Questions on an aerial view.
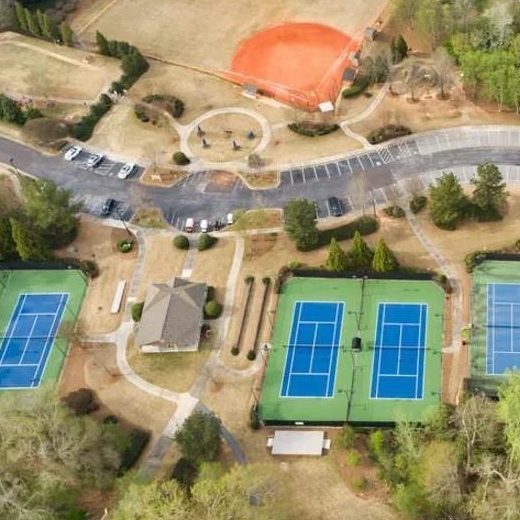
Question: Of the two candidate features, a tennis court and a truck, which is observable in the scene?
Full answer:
Visible in the photo is a tennis court.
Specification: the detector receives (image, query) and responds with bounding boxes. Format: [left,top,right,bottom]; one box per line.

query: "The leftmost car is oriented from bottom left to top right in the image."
[65,146,82,160]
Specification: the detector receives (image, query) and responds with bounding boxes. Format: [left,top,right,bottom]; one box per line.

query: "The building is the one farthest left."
[133,271,214,353]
